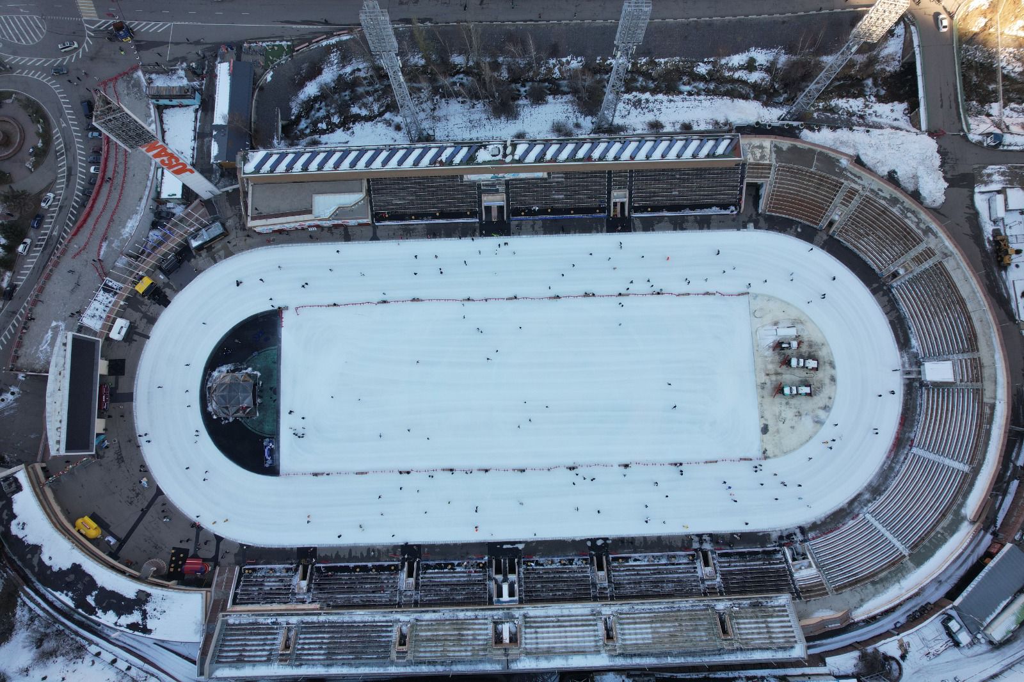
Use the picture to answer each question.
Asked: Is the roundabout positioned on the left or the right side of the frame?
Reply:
left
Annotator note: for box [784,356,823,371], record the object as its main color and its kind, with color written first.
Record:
white vehicle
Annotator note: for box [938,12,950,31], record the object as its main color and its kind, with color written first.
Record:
white vehicle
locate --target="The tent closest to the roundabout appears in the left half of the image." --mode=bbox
[73,276,123,331]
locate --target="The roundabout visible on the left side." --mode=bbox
[0,89,54,290]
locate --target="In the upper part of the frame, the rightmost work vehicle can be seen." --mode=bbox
[995,231,1020,264]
